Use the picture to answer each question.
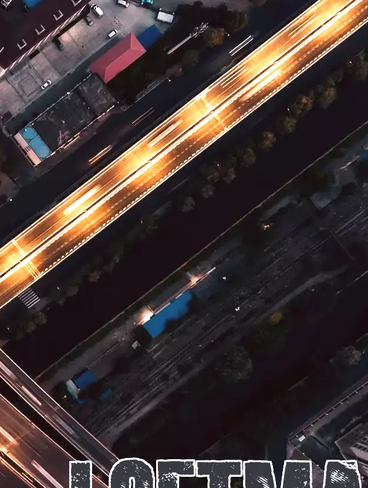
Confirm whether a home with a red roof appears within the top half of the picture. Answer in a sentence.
Yes, you'll find a home with a red roof within the top half of the picture.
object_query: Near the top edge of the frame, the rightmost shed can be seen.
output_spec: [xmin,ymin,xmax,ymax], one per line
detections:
[138,24,164,50]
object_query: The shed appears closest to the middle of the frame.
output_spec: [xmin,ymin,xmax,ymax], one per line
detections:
[141,290,196,338]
